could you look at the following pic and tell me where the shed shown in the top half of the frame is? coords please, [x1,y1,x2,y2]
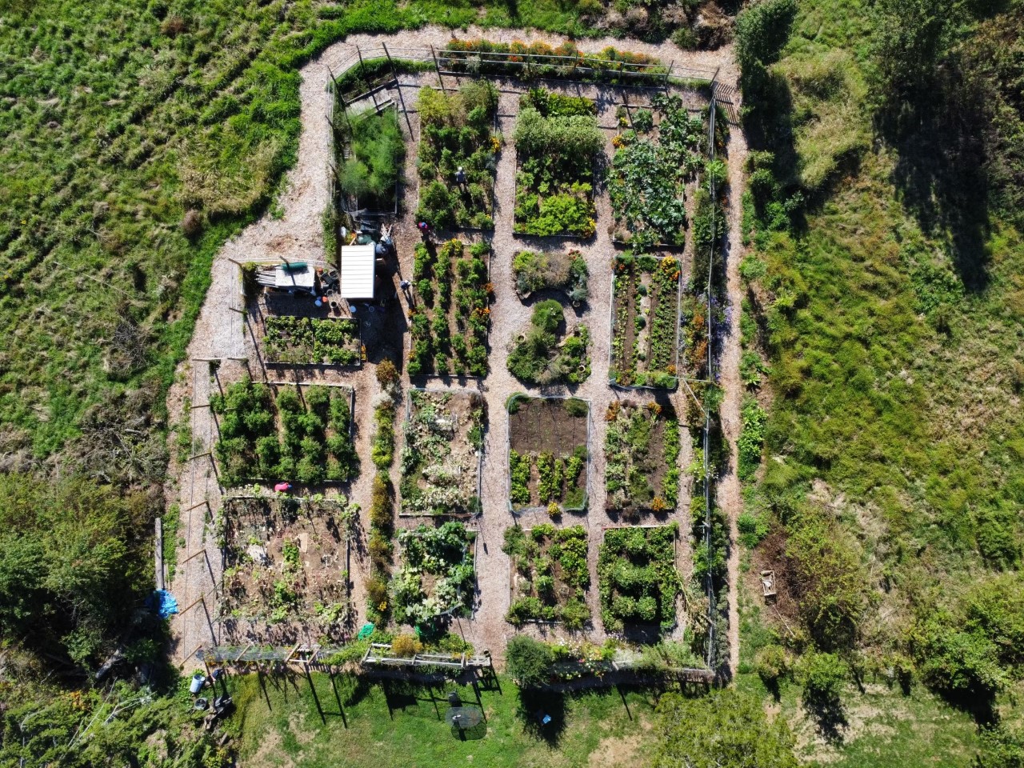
[341,245,385,302]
